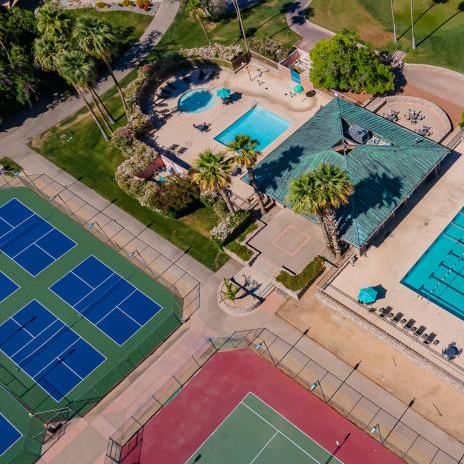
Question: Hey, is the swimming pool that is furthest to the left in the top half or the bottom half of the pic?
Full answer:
The top half of the photo is where the swimming pool that is furthest to the left is.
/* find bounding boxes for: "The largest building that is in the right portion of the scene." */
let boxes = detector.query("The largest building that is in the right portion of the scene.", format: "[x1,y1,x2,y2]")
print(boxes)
[240,91,450,258]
